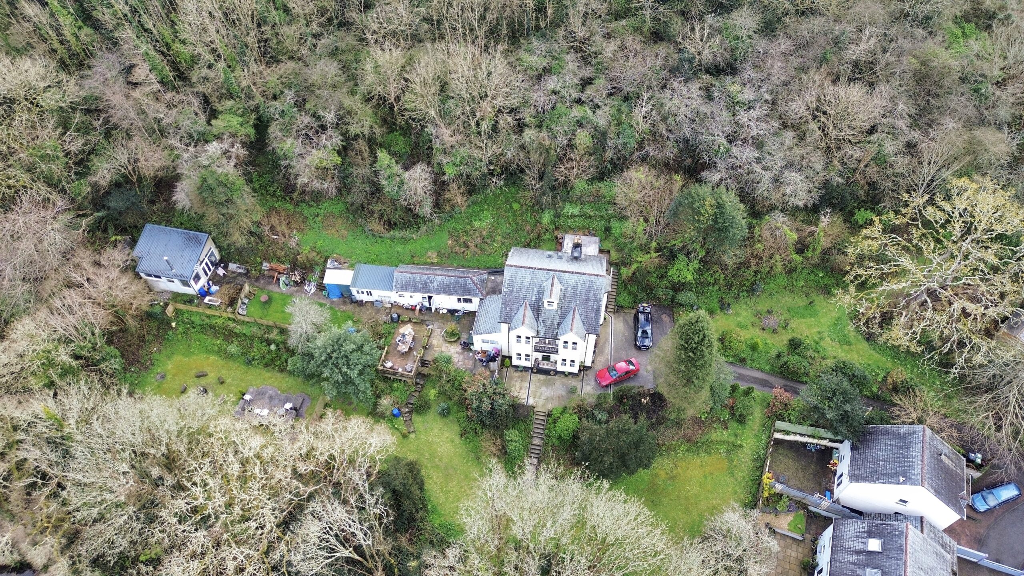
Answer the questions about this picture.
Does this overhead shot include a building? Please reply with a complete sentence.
Yes, a building is visible in the scene.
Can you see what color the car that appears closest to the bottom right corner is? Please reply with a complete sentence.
The car that appears closest to the bottom right corner looks blue in the image.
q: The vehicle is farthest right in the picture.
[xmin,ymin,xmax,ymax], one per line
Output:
[967,482,1024,516]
